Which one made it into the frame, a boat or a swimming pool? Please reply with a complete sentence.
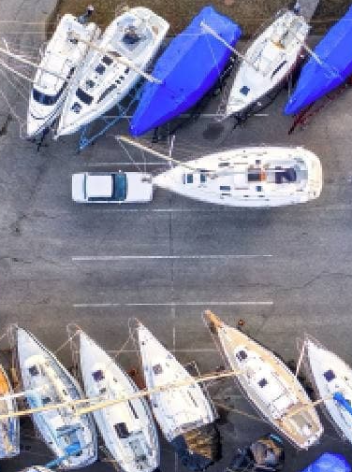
This aerial view contains a boat.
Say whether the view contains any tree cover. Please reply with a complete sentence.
No, the scene doesn't show any tree cover.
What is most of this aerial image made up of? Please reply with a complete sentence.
What you mostly see from above here is paved ground.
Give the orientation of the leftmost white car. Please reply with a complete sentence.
In this picture, the leftmost white car is oriented from left to right.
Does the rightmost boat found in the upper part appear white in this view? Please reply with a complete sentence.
No, the rightmost boat found in the upper part is blue.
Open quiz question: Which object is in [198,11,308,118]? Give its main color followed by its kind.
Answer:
white boat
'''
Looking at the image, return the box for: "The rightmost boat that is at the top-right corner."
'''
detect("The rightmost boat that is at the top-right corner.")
[282,6,352,114]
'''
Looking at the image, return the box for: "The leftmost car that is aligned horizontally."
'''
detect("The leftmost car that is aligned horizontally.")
[71,168,157,206]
